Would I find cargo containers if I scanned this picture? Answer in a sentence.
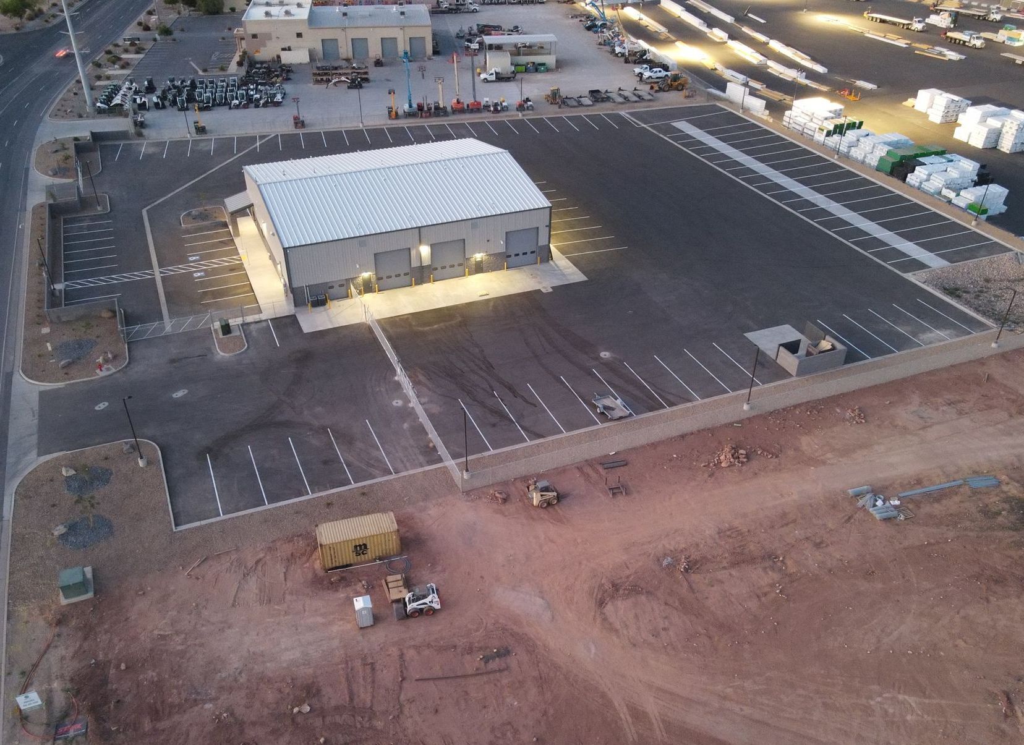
Yes, the image includes a cargo container.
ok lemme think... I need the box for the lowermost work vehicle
[392,577,446,620]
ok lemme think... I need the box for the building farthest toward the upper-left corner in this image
[235,0,432,61]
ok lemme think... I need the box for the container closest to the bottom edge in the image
[314,507,403,569]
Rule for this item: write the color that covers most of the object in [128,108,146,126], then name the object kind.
gray work vehicle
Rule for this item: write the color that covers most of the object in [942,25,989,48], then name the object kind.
white truck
